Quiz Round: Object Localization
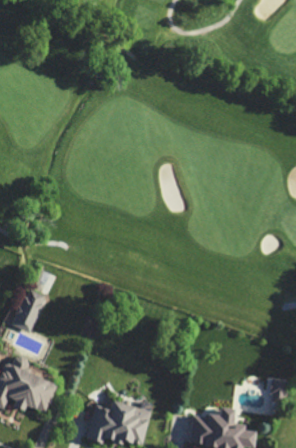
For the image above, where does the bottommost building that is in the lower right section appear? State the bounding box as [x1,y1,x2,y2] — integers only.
[192,408,258,448]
